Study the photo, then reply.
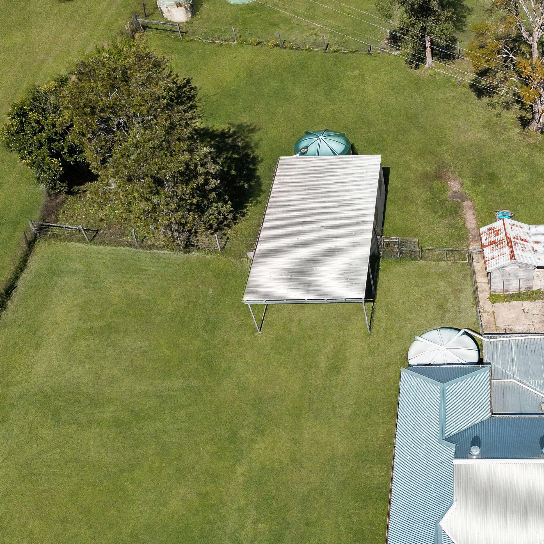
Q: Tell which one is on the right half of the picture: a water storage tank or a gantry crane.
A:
water storage tank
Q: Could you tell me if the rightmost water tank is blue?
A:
No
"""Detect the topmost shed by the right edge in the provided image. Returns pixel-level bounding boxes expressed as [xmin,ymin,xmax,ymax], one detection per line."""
[479,216,544,293]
